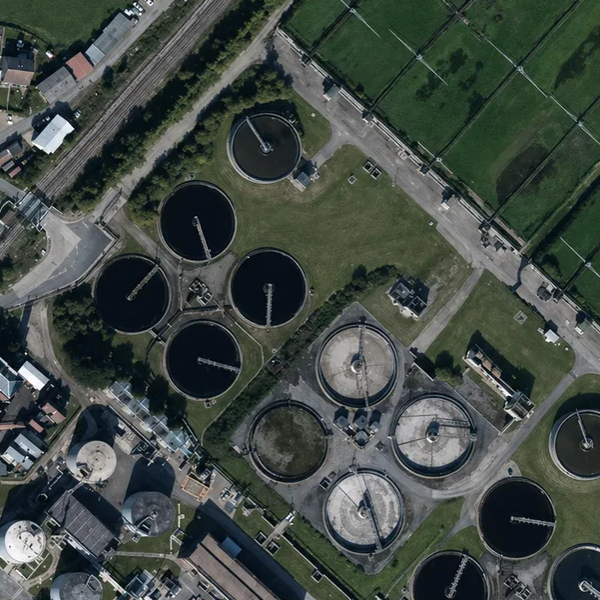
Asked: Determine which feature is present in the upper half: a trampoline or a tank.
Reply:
tank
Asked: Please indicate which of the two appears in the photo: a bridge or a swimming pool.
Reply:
bridge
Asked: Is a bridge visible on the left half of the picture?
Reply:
Yes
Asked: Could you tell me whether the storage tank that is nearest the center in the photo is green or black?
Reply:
black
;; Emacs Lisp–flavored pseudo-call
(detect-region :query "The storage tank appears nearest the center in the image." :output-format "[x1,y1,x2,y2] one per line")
[227,247,310,330]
